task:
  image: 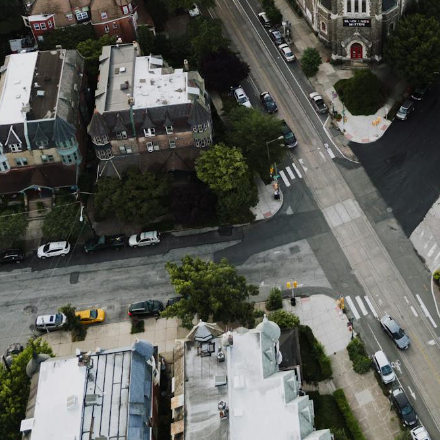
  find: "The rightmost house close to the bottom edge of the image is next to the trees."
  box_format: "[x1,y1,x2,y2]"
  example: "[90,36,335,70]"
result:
[173,320,322,440]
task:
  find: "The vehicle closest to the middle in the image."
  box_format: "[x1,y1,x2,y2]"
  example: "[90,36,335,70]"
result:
[126,227,162,248]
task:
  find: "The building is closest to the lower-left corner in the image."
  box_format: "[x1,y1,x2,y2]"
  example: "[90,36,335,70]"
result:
[23,342,173,440]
